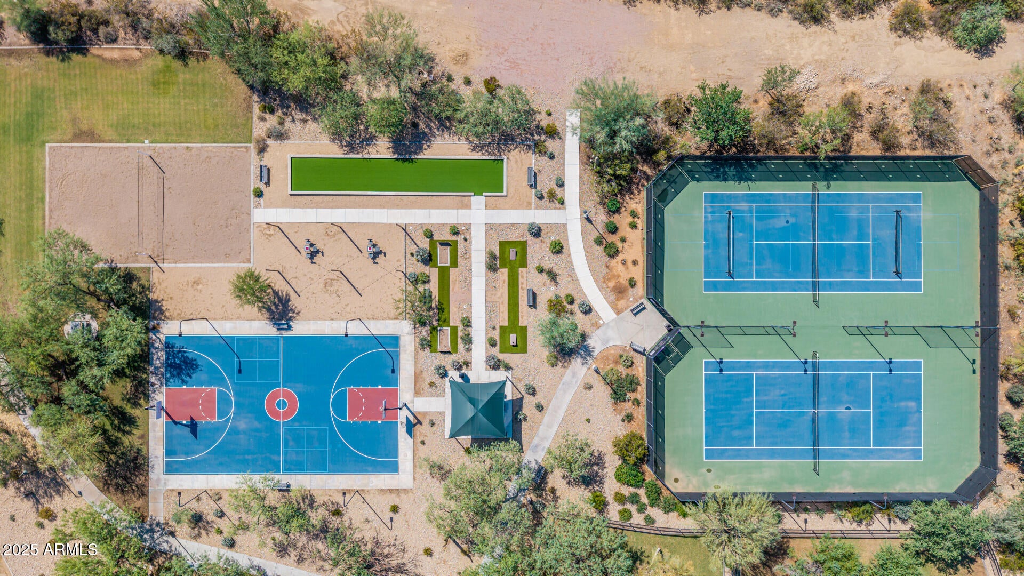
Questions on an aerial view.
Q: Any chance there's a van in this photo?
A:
No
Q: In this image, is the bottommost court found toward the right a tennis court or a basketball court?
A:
tennis court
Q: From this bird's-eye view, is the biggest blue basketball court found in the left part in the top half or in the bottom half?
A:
bottom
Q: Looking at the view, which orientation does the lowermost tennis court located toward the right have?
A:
from side to side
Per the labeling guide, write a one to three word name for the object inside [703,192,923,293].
tennis court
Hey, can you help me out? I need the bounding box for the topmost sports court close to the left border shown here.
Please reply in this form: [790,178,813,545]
[45,144,254,267]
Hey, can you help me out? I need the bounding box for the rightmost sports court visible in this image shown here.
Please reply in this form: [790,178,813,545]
[835,214,959,271]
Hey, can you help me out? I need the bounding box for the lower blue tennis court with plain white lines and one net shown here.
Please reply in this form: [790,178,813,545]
[703,360,923,461]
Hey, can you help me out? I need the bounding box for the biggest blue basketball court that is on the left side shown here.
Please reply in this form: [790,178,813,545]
[164,335,399,474]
